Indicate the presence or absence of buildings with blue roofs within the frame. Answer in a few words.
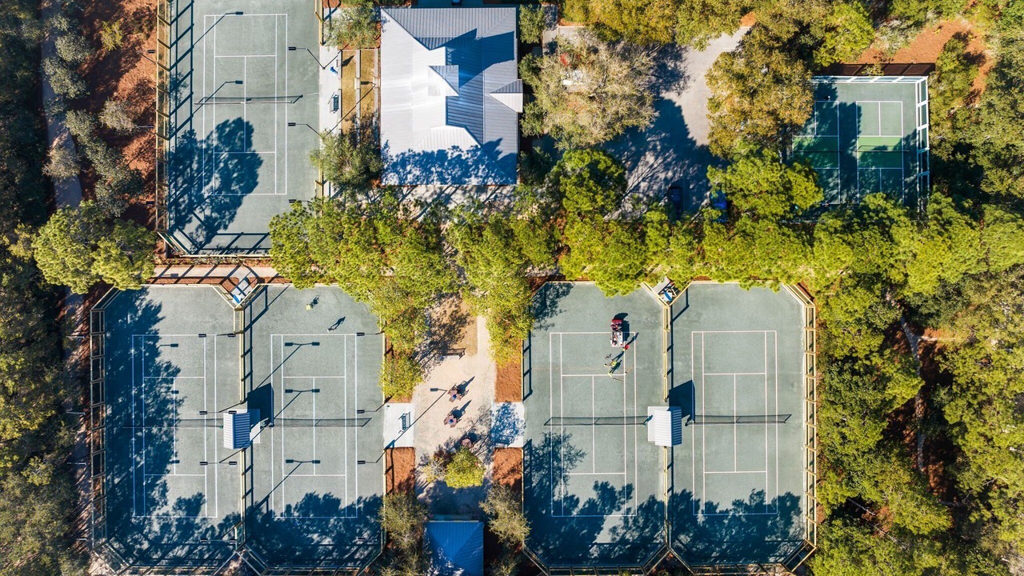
Yes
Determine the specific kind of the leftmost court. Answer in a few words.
tennis court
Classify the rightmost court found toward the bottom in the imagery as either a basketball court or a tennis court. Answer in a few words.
tennis court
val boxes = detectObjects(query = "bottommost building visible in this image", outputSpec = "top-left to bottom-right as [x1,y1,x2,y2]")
[428,511,485,576]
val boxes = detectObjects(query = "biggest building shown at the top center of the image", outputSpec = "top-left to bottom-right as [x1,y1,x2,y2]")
[380,6,523,186]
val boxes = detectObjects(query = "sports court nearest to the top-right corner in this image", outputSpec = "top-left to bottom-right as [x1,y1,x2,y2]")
[778,83,918,220]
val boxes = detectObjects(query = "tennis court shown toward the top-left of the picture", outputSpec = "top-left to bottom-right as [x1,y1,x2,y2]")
[171,0,321,253]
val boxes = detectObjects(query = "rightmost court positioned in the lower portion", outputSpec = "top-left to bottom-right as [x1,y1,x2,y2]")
[666,283,805,565]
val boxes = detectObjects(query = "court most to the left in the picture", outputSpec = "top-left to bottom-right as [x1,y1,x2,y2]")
[106,286,245,564]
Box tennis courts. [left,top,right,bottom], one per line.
[106,286,245,564]
[525,283,667,565]
[171,0,321,253]
[666,283,805,565]
[244,286,385,564]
